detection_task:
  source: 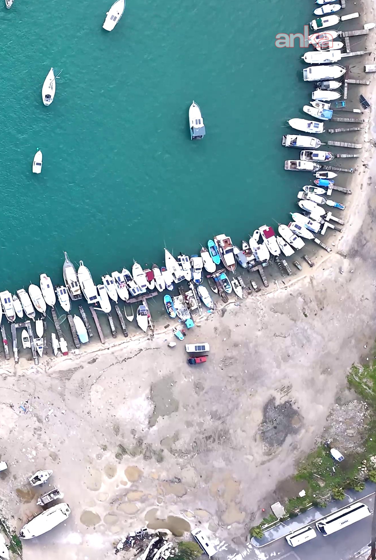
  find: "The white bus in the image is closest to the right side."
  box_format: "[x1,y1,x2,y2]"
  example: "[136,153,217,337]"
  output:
[311,501,369,535]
